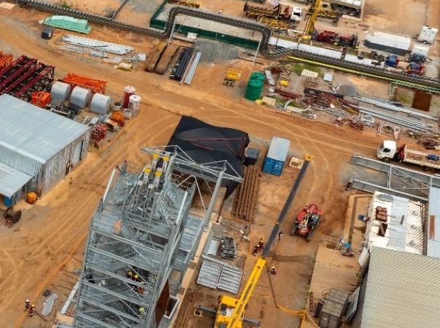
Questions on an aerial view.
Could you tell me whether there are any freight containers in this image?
Yes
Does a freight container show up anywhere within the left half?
No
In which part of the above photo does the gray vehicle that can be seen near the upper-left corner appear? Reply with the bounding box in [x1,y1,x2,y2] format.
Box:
[40,25,53,40]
